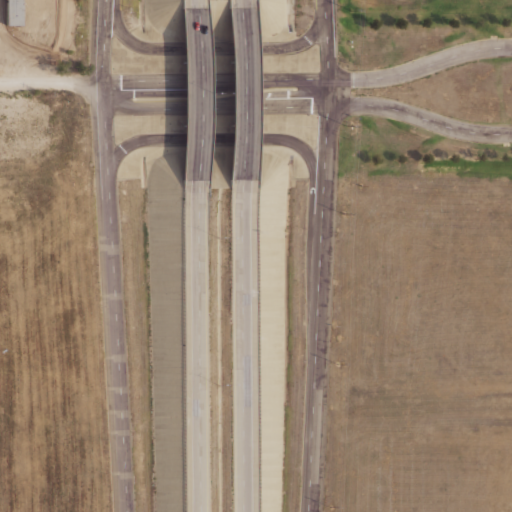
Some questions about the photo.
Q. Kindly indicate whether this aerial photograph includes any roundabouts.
No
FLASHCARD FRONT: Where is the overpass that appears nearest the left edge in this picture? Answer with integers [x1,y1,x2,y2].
[185,0,214,202]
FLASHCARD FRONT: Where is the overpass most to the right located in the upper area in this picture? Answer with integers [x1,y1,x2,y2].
[231,0,262,202]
